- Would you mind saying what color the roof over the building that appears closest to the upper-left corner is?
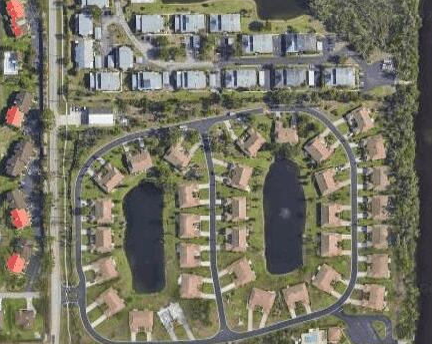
red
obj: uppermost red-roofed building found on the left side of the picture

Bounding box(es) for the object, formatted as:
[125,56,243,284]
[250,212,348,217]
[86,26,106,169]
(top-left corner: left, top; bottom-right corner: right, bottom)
[6,0,27,38]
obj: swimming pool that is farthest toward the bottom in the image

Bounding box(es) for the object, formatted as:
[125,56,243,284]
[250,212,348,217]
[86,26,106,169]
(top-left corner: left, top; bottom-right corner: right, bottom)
[301,330,327,344]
